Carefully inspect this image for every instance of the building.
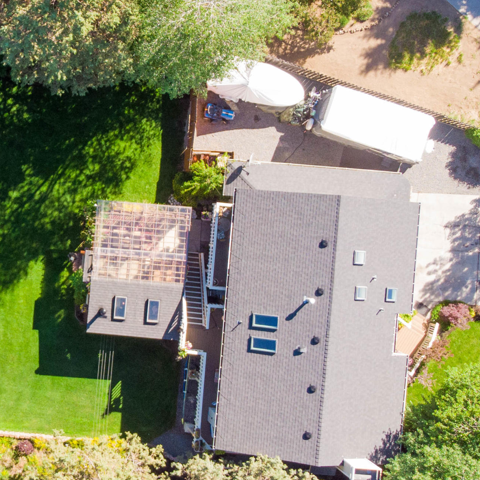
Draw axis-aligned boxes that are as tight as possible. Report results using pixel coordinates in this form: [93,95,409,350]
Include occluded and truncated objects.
[80,200,193,340]
[210,156,422,475]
